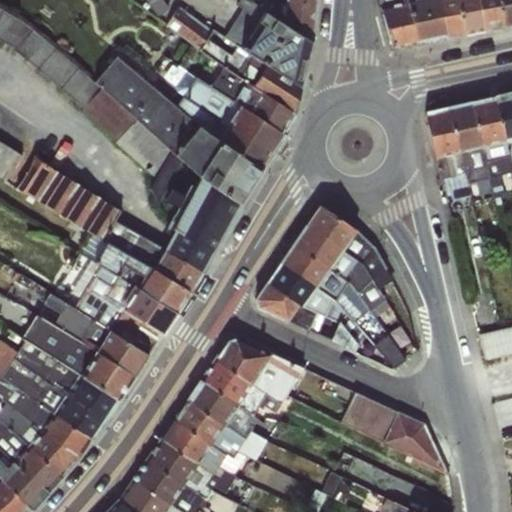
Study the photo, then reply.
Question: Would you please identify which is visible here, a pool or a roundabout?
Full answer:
The image shows a roundabout.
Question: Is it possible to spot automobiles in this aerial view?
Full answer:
Yes, looking at the shot, I can spot an automobile.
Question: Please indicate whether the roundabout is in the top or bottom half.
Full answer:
The roundabout sits in the top half of the picture.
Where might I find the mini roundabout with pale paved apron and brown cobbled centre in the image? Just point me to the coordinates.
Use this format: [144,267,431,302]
[300,88,414,202]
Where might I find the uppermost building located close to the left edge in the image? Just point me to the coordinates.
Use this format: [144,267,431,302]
[0,7,32,47]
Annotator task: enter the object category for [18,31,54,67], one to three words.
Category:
building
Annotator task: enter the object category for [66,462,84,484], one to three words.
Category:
car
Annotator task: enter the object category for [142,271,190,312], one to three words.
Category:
house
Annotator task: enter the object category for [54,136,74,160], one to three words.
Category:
vehicle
